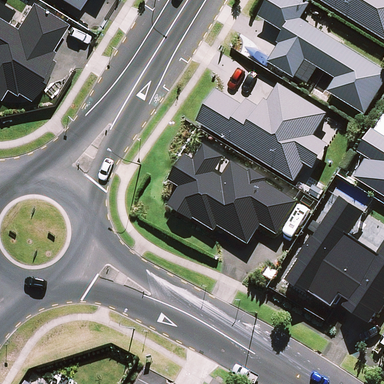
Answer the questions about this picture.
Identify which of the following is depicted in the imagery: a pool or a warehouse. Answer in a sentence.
It is a pool that can be seen here.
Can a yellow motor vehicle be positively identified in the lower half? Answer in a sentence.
No, no yellow motor vehicle appears in the lower half.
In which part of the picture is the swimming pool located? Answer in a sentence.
The swimming pool appears toward the right of the photo.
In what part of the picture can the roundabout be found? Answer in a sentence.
The roundabout sits in the left section of the image.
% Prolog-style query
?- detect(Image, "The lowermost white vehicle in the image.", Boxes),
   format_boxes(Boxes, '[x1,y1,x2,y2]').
[232,363,260,384]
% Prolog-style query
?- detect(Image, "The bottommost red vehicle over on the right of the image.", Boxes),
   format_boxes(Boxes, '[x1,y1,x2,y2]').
[228,66,245,89]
